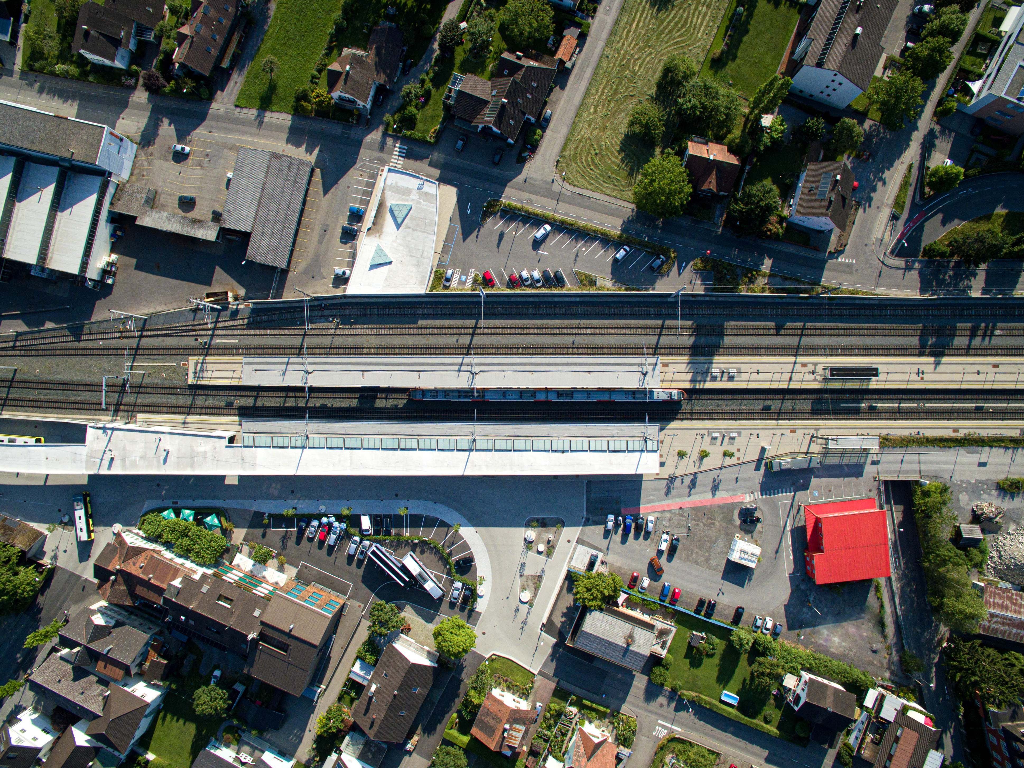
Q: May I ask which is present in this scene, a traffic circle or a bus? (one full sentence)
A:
Looking from above, you can make out a bus.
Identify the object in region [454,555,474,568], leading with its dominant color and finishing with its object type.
black vehicle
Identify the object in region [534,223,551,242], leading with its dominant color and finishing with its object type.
white car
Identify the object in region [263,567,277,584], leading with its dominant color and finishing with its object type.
white umbrella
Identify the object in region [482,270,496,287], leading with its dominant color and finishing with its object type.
red car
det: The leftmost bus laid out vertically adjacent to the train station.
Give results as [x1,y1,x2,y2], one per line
[73,490,96,544]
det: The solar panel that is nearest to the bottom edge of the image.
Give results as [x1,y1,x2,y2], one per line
[816,172,833,199]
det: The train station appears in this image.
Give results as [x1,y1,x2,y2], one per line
[0,357,1024,478]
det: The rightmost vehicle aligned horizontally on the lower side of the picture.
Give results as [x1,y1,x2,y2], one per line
[766,455,819,472]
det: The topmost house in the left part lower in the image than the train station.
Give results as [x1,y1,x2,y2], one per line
[0,508,50,554]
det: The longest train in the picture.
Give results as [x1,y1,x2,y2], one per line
[409,388,685,400]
